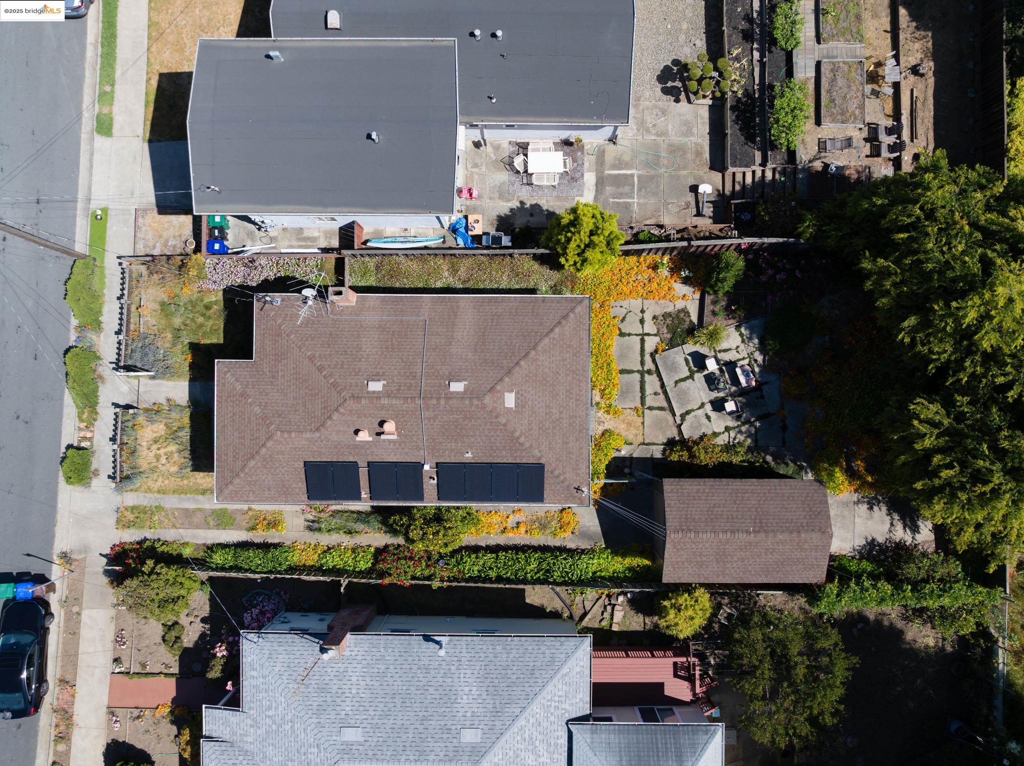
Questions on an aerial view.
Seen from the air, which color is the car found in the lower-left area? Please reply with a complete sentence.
The car found in the lower-left area looks black in the image.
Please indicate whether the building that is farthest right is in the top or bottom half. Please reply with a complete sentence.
Seen from above, the building that is farthest right lies in the bottom half of the view.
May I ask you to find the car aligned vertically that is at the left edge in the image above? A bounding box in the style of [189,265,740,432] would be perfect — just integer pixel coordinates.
[0,600,55,726]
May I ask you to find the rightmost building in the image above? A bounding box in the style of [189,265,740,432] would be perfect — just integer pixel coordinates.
[650,476,839,583]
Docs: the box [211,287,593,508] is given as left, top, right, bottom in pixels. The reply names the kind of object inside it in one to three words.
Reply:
house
